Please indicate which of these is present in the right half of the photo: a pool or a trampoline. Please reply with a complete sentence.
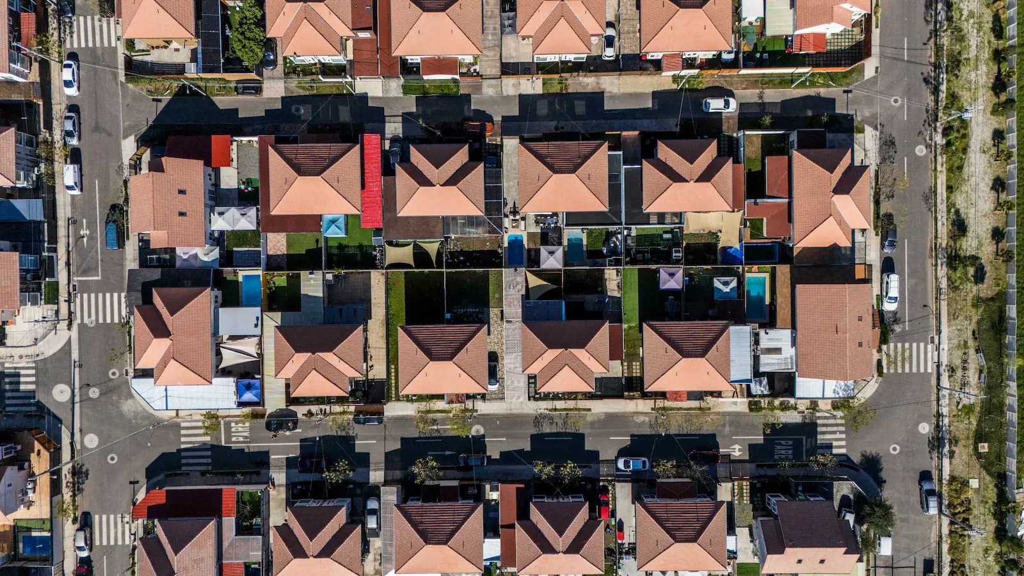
It is a pool that can be seen in the right half of the photo.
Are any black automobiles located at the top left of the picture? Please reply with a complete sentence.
Yes, looking at the top left of the picture, one can make out a black automobile.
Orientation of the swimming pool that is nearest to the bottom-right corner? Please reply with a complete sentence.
I'd say the swimming pool that is nearest to the bottom-right corner is aligned up and down in the picture.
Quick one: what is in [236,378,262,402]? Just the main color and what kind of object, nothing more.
blue gazebo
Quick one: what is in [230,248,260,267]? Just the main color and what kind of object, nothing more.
black swimming pool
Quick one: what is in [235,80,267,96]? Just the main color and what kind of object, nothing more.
black car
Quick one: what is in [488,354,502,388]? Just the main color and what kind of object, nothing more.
black car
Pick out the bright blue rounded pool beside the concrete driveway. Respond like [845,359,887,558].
[505,232,525,266]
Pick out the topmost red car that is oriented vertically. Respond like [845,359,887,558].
[596,488,612,520]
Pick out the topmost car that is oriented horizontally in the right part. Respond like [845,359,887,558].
[702,95,736,113]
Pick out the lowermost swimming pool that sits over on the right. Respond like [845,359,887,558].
[745,274,768,322]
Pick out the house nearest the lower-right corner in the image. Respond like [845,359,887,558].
[751,490,871,576]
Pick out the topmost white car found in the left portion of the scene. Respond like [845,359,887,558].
[63,61,83,97]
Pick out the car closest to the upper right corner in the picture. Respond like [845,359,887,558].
[879,222,898,257]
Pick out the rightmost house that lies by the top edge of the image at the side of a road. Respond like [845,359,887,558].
[784,0,872,37]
